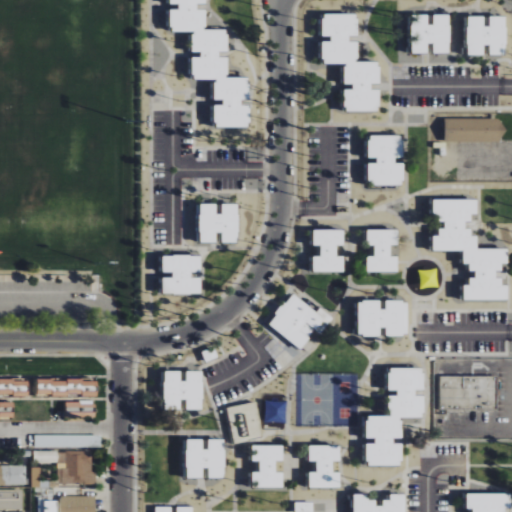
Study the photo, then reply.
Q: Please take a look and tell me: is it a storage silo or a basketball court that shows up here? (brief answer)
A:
basketball court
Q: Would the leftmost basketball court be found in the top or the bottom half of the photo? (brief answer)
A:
bottom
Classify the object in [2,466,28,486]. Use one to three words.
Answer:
house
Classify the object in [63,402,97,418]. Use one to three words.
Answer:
house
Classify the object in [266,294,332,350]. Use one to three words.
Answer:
building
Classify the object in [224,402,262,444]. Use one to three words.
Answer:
building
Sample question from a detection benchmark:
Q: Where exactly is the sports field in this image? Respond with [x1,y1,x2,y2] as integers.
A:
[0,0,141,330]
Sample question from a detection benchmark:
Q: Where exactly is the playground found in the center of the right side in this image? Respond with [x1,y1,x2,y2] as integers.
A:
[406,260,442,296]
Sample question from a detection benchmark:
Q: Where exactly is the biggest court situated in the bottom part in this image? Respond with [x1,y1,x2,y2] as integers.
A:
[296,374,358,426]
